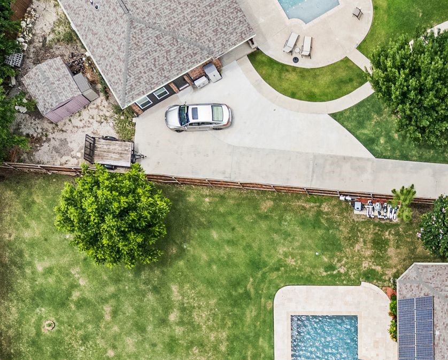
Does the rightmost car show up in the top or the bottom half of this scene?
top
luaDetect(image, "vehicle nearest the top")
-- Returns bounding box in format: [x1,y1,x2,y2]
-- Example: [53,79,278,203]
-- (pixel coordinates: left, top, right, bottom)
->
[166,100,233,135]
